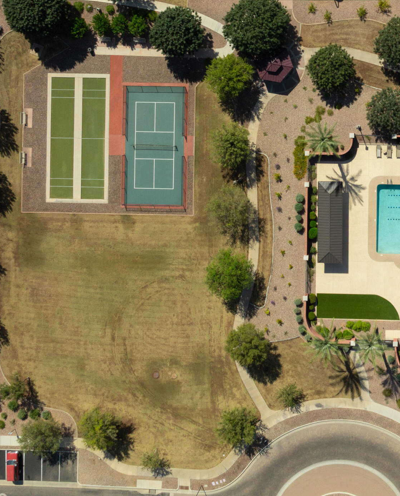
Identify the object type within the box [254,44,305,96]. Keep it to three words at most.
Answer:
gazebo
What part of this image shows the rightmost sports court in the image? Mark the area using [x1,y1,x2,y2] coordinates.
[109,56,194,210]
